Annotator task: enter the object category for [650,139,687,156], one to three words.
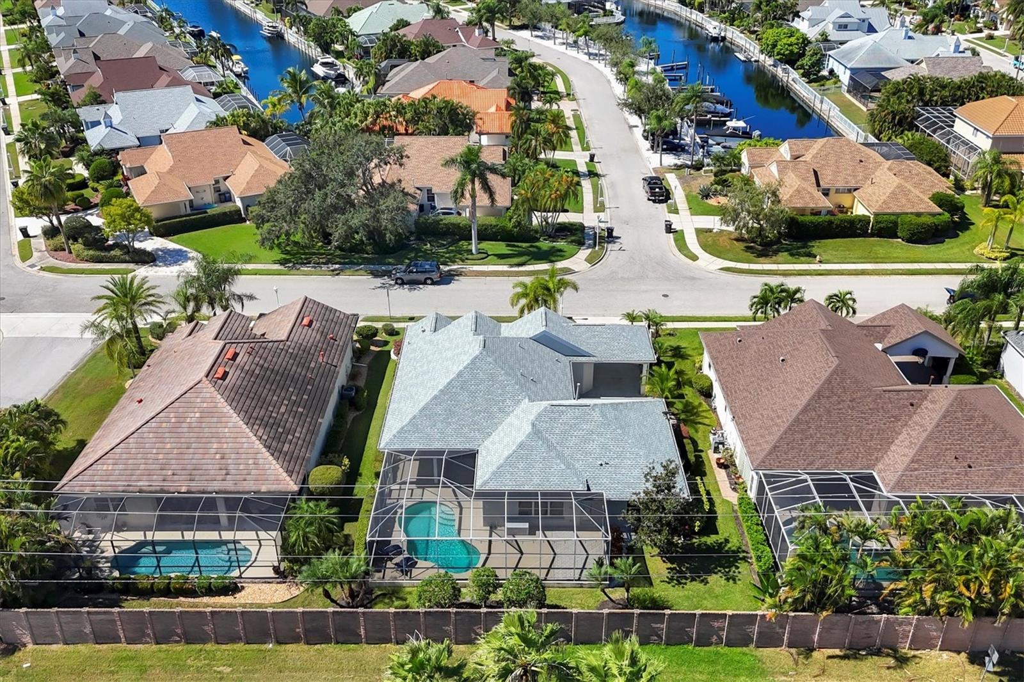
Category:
car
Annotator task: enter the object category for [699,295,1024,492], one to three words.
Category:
house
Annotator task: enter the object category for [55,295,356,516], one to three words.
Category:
house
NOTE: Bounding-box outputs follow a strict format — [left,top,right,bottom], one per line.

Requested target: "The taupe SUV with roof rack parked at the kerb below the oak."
[393,262,443,286]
